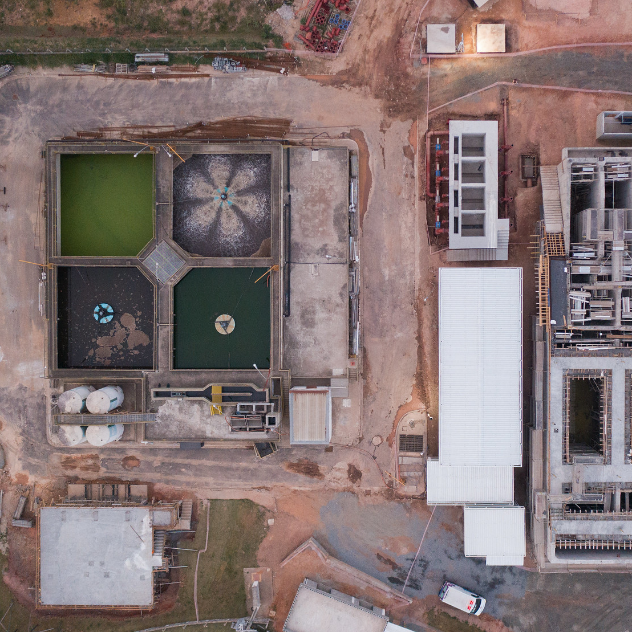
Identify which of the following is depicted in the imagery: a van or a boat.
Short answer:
van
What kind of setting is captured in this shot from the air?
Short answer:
industrial area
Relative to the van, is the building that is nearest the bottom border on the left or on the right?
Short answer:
left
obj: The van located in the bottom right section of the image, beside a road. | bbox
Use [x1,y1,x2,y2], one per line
[439,580,486,614]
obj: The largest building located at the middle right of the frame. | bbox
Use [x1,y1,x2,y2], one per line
[438,268,522,467]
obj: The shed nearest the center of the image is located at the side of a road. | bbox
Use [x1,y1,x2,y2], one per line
[290,386,346,445]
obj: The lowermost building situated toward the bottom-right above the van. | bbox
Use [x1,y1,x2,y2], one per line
[462,500,526,557]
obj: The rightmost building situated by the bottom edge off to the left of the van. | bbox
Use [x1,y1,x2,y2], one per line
[282,570,390,632]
